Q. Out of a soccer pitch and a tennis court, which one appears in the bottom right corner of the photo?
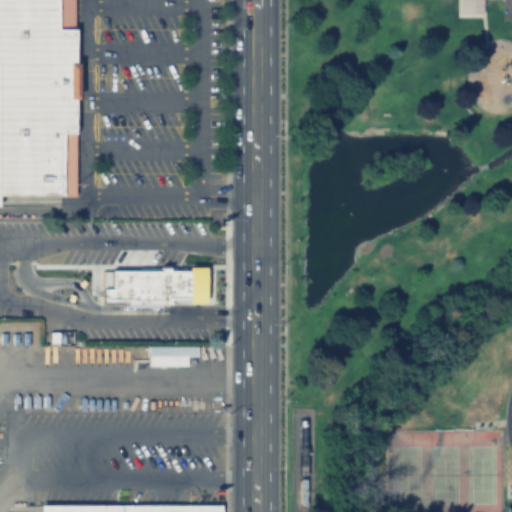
tennis court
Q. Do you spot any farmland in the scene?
No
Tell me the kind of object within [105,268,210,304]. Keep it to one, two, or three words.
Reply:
building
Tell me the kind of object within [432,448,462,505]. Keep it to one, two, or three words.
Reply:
tennis court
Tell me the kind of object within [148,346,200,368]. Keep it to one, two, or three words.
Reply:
building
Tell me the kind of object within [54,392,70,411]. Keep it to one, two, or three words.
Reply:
vehicle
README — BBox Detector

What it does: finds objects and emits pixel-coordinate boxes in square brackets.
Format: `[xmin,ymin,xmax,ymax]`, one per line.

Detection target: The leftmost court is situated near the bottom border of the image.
[394,448,424,505]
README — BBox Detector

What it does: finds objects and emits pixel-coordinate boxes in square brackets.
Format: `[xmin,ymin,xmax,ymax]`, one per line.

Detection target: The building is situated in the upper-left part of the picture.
[0,0,83,208]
